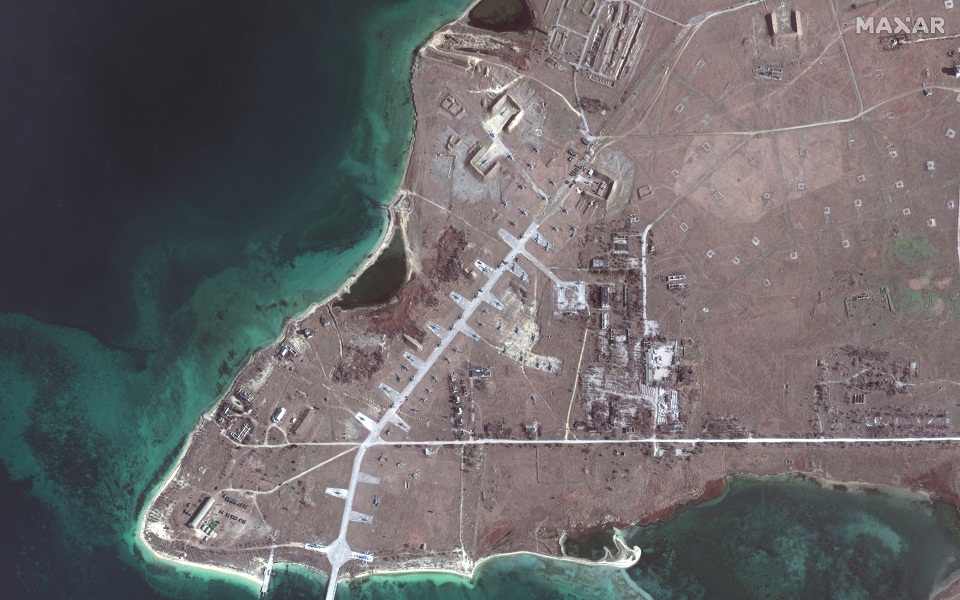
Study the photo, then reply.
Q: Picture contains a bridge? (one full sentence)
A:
No, there's no bridge here.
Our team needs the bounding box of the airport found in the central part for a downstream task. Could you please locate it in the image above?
[305,104,592,570]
